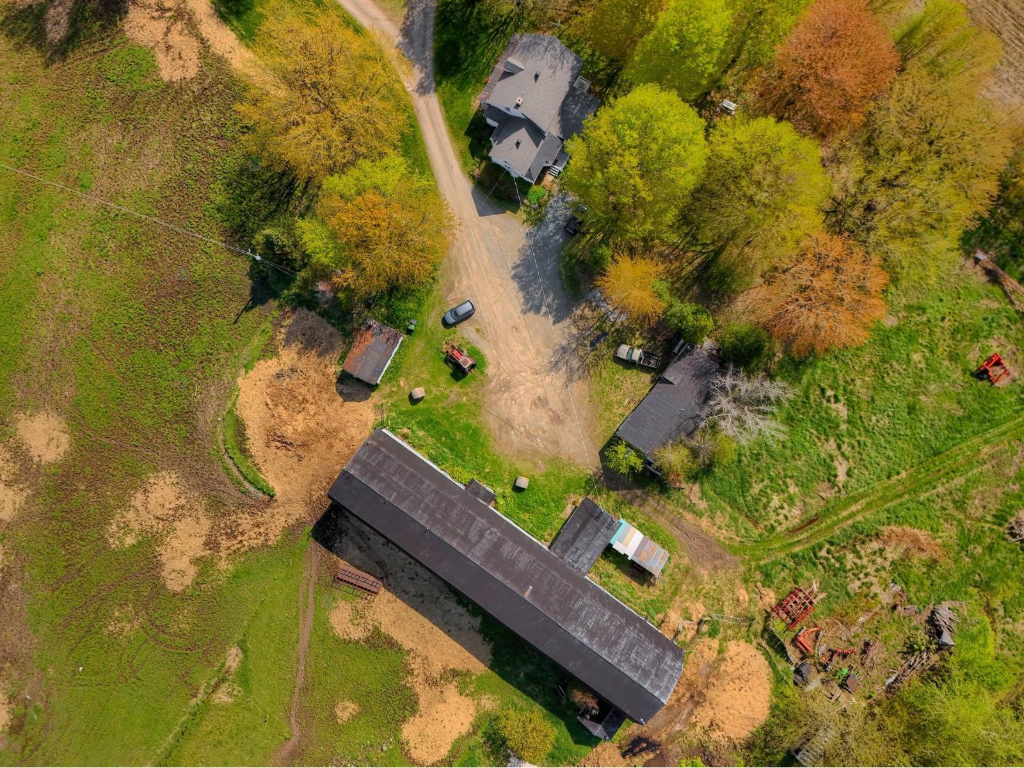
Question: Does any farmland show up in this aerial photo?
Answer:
Yes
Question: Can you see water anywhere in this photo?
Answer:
No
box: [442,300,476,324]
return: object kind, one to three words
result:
car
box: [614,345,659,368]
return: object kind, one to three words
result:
truck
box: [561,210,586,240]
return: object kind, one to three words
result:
car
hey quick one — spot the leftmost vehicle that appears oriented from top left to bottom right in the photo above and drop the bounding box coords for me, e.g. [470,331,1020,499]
[440,341,474,373]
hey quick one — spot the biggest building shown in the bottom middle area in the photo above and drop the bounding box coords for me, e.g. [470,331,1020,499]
[328,428,686,722]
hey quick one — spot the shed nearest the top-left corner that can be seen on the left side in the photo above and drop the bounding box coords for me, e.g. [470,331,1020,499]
[342,318,403,386]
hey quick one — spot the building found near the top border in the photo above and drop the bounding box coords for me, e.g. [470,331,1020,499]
[478,32,598,196]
